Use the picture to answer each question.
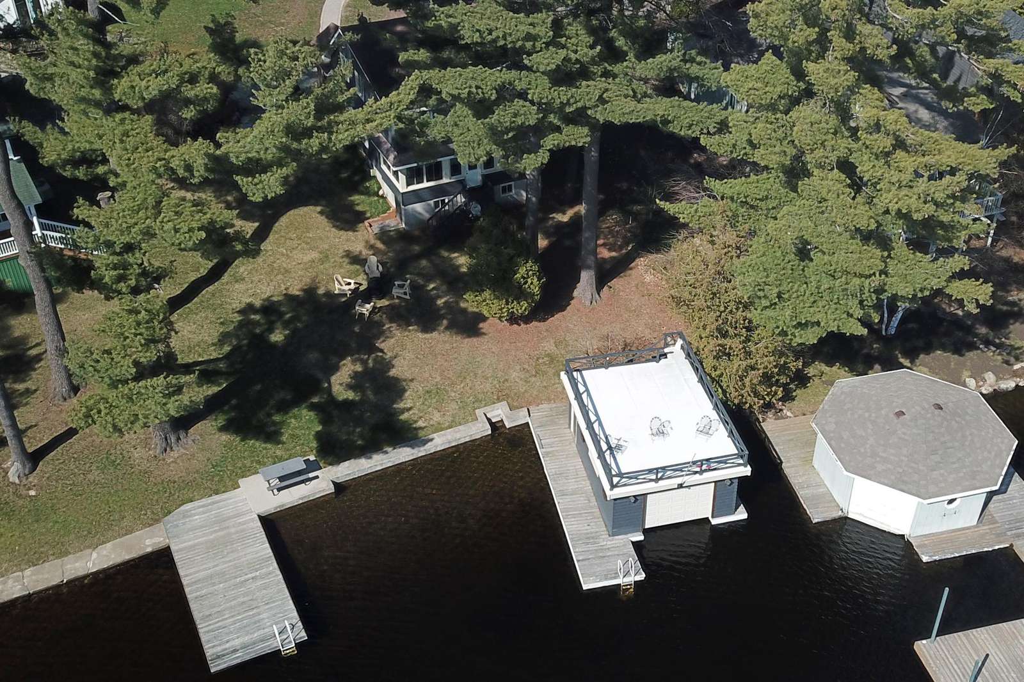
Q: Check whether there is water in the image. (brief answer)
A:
Yes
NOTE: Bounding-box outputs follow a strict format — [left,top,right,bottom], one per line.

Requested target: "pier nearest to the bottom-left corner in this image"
[161,487,310,675]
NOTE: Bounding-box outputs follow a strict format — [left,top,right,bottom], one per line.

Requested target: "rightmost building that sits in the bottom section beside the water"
[809,369,1020,543]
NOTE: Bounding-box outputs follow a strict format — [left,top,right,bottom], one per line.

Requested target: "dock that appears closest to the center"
[530,407,648,594]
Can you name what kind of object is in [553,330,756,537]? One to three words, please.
building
